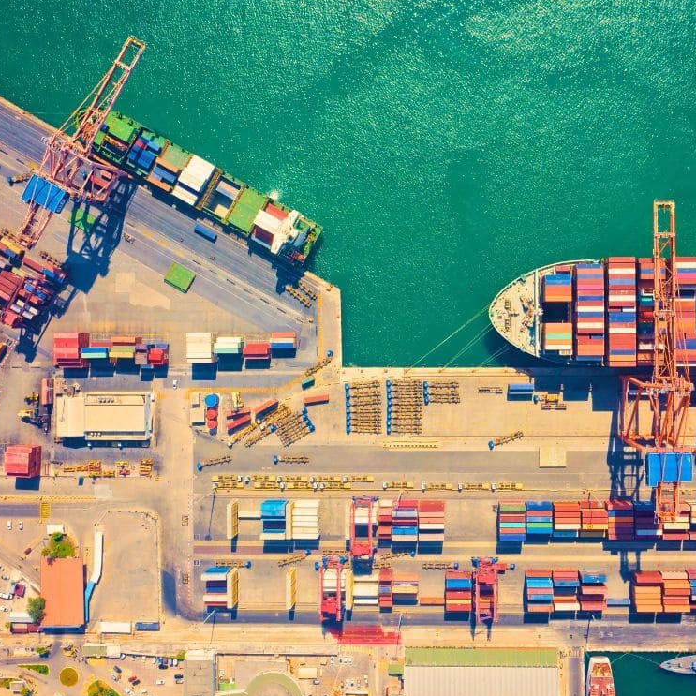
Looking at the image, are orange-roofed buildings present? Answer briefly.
Yes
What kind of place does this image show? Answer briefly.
port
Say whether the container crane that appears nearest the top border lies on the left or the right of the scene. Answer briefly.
left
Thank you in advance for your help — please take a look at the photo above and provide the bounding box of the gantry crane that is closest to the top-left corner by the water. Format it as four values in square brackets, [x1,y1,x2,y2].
[13,36,151,248]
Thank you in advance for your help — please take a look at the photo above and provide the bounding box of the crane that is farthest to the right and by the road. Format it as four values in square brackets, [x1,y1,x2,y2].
[610,198,696,524]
